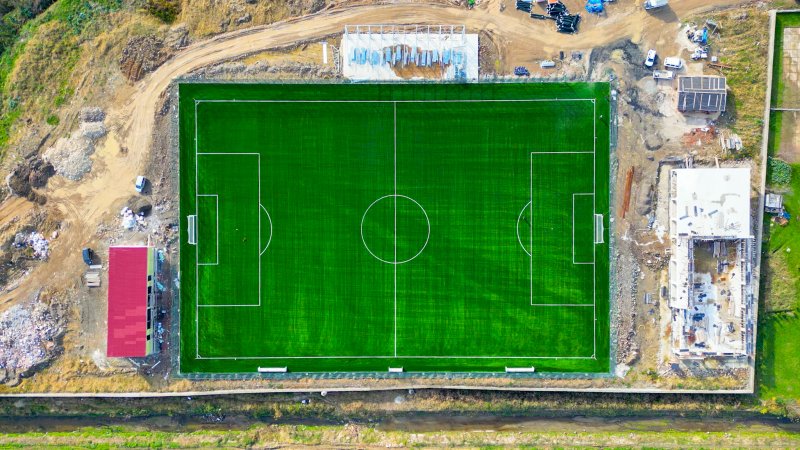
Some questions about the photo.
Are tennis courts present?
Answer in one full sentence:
No, the picture doesn't show any tennis court.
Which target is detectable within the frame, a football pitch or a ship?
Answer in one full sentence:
I can see a football pitch in this picture.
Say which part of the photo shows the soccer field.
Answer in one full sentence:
The soccer field is in the center part of the image.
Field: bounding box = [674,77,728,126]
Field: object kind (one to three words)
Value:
shed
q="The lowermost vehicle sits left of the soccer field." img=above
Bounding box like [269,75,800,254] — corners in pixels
[80,247,94,266]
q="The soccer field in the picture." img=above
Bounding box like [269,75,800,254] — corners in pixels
[179,82,610,374]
